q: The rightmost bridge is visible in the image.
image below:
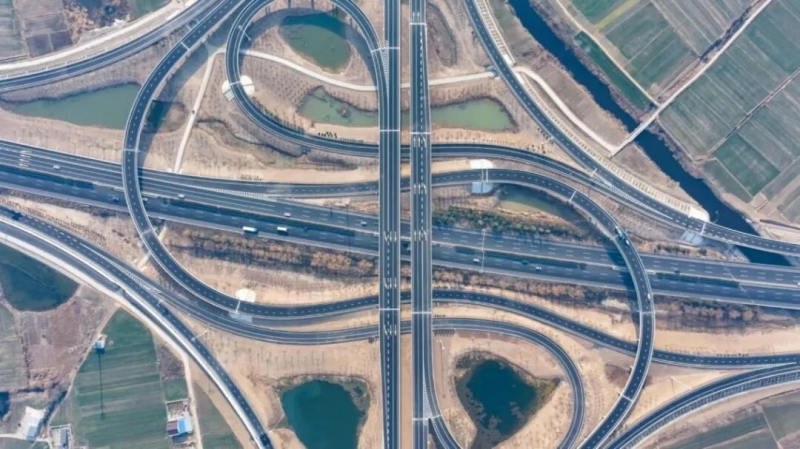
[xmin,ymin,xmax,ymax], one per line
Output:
[684,201,800,257]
